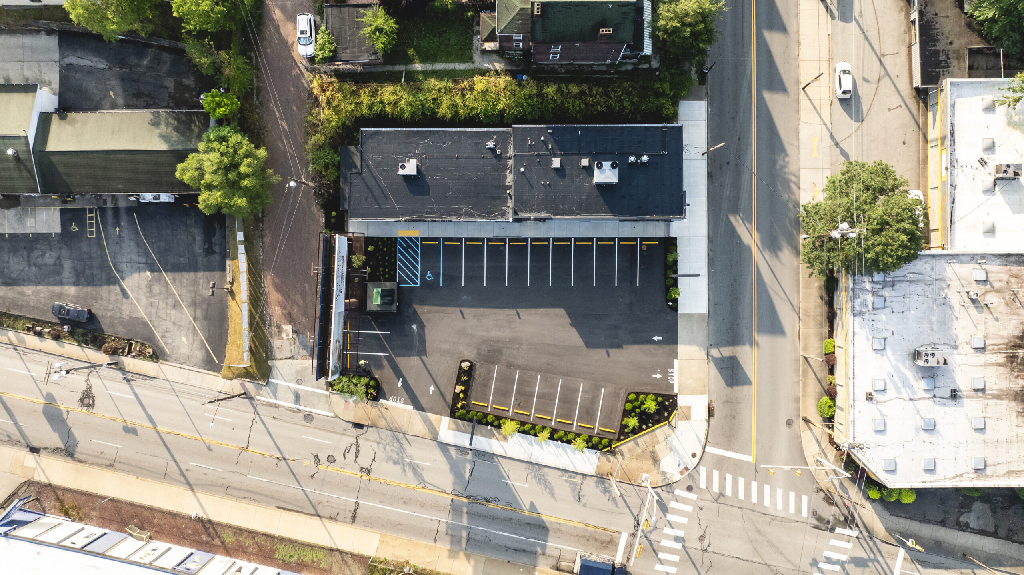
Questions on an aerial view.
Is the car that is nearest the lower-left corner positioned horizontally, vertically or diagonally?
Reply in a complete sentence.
What the image shows is the car that is nearest the lower-left corner lying horizontally.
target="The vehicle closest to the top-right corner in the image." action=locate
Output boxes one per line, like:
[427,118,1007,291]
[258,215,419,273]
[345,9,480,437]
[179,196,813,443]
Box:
[835,62,855,98]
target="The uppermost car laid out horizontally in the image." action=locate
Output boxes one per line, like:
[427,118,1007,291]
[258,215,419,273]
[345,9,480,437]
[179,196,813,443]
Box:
[52,302,93,322]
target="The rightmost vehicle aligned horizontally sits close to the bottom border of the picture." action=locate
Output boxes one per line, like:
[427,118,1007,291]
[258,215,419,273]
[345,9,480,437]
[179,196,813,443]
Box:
[573,549,629,575]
